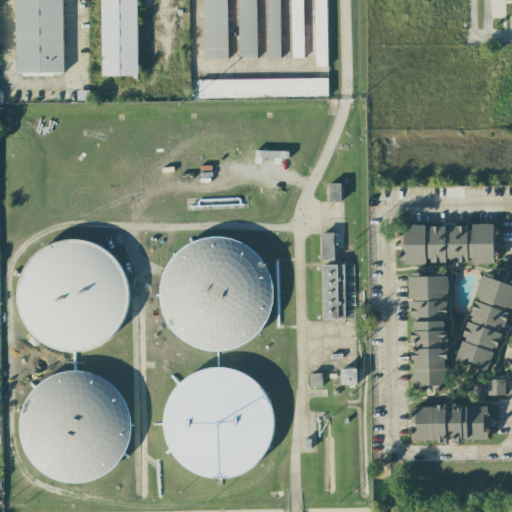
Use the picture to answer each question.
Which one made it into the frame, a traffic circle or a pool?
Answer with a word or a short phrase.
pool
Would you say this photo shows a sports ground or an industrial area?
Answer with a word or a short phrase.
industrial area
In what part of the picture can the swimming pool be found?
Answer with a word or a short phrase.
right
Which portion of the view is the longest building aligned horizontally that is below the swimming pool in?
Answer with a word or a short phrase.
bottom right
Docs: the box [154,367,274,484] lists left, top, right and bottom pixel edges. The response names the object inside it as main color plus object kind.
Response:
white storage tank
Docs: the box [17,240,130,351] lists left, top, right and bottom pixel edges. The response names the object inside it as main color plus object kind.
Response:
white storage tank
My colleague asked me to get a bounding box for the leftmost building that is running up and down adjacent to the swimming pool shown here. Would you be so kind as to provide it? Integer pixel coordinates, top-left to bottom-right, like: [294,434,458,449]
[410,276,450,388]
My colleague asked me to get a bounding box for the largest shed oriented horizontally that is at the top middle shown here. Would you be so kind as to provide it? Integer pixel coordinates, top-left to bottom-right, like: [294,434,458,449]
[198,78,330,97]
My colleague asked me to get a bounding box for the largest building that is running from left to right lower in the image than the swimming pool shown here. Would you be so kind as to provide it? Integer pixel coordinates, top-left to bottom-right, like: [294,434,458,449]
[412,406,490,444]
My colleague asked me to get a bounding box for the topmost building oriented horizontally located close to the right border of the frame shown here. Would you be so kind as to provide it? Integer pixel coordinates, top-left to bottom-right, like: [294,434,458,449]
[404,224,497,264]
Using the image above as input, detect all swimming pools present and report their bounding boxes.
[454,268,482,314]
